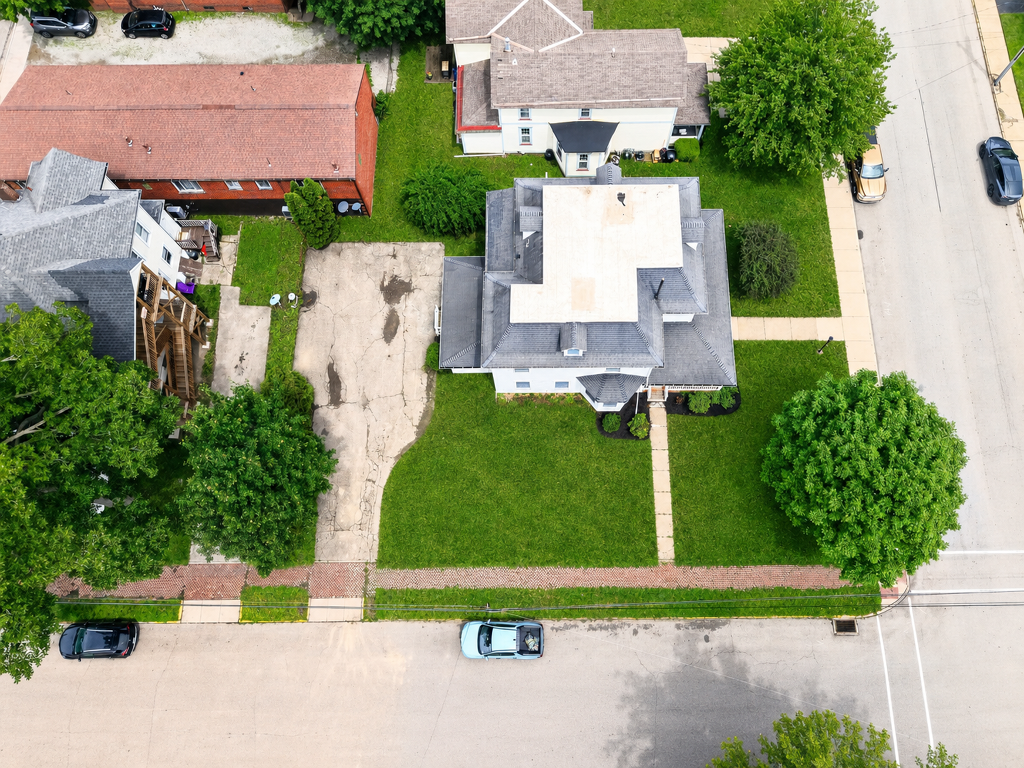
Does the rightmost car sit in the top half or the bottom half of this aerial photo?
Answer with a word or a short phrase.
top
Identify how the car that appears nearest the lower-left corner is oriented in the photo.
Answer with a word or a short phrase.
from side to side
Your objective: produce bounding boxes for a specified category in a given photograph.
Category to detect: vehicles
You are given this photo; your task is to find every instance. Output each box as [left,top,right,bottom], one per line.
[121,10,176,41]
[61,621,143,662]
[979,139,1024,204]
[30,9,96,43]
[460,619,546,661]
[853,131,890,204]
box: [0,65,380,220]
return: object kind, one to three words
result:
building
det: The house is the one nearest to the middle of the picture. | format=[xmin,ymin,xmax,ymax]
[435,159,738,416]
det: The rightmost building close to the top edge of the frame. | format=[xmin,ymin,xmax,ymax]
[446,0,709,176]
